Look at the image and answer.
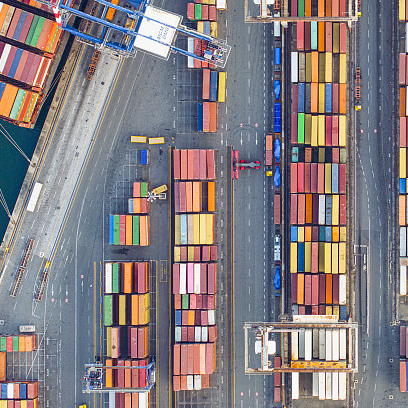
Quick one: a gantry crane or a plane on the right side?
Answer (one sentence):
You can see a gantry crane on the right side.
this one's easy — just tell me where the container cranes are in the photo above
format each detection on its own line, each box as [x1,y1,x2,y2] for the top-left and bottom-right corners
[30,0,237,73]
[245,310,359,374]
[245,0,359,34]
[83,355,160,394]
